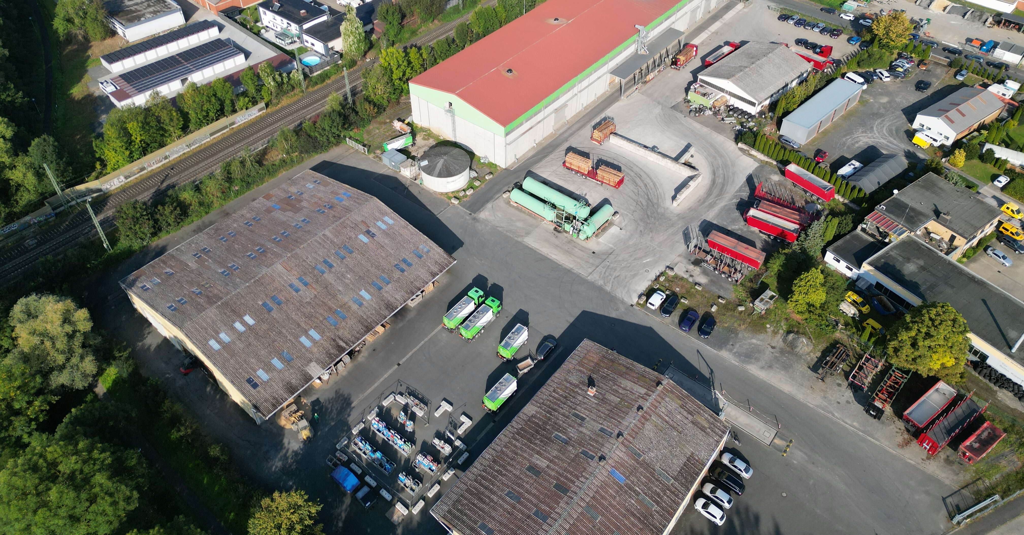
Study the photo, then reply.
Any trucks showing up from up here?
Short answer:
Yes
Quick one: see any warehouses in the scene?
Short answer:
Yes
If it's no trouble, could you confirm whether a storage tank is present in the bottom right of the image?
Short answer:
No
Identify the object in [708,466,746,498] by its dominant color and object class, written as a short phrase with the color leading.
black car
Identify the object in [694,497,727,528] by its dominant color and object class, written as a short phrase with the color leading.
white car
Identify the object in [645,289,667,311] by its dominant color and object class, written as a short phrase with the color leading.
white vehicle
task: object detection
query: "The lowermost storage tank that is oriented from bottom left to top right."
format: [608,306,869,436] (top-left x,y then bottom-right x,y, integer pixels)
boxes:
[583,206,617,238]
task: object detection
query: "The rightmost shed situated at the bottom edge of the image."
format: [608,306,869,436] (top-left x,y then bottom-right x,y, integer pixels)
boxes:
[423,338,734,535]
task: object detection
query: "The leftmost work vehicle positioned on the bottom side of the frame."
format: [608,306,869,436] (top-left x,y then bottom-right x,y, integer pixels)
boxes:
[180,355,199,376]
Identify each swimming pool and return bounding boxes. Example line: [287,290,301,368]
[298,51,330,70]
